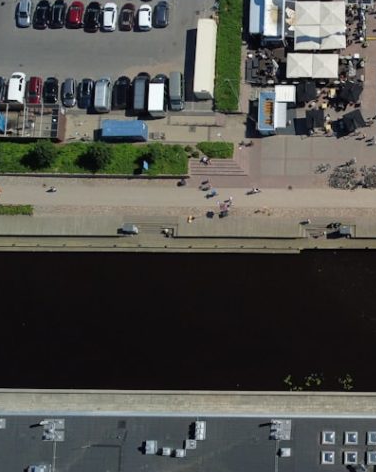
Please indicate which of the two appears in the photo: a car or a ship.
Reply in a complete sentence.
I can see a car in this picture.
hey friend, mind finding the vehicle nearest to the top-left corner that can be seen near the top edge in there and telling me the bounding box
[17,0,33,30]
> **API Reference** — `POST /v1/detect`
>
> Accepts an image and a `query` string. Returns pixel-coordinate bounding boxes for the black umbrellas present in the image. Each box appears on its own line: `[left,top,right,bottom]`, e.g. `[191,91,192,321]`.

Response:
[296,83,317,104]
[341,107,368,130]
[331,117,357,139]
[338,83,359,104]
[305,109,325,129]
